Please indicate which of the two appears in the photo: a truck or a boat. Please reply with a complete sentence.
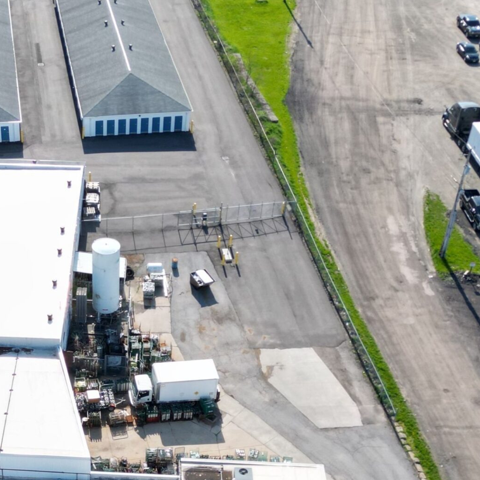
Looking from above, you can make out a truck.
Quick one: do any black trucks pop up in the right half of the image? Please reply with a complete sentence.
Yes, a black truck appears in the right half of the image.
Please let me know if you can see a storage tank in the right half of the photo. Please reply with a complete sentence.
No, in the right half of the photo there is no storage tank.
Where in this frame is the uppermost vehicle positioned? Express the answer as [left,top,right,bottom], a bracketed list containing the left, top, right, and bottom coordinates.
[452,14,480,37]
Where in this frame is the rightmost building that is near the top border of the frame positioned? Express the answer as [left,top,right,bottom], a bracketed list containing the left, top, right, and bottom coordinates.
[55,0,194,137]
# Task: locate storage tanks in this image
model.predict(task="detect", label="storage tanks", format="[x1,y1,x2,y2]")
[94,235,124,330]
